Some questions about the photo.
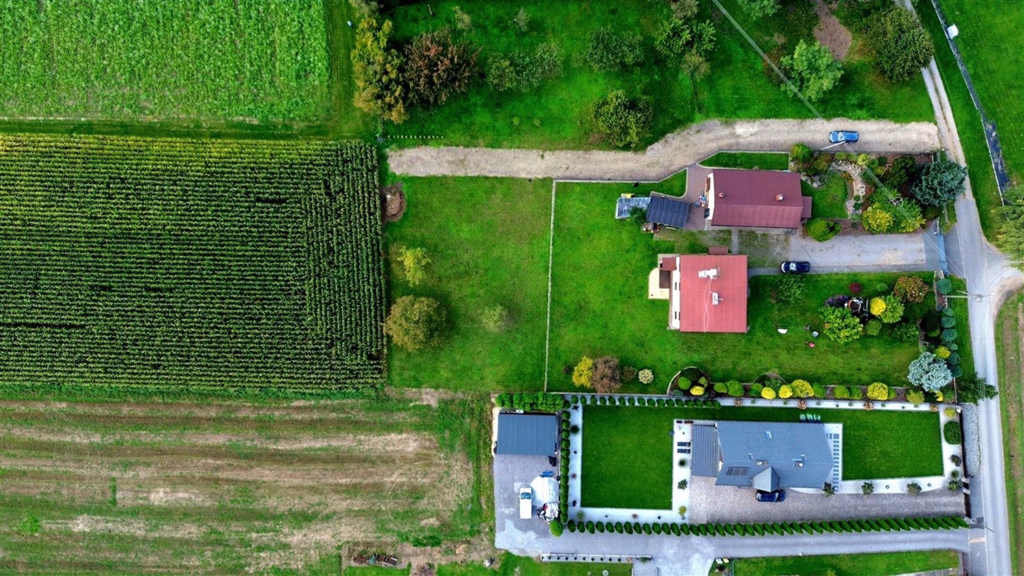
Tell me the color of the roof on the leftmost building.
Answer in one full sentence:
From above, the roof of the leftmost building looks blue.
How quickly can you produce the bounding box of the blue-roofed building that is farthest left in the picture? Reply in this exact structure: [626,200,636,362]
[497,412,556,455]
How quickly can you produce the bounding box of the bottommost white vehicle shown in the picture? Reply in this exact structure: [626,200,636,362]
[518,484,533,519]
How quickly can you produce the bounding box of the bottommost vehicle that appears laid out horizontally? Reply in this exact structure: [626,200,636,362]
[755,489,785,504]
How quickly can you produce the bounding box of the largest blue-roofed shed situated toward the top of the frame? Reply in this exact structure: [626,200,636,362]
[646,196,692,230]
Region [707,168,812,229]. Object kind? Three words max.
house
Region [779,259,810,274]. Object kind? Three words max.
car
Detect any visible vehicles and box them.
[779,259,810,274]
[518,484,533,519]
[755,489,785,504]
[827,129,859,144]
